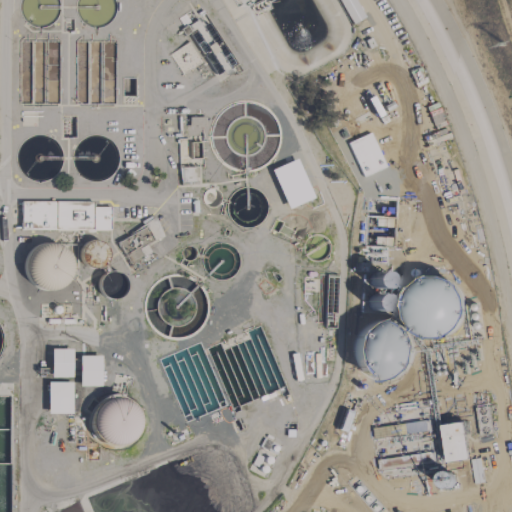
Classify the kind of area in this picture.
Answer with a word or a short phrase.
industrial area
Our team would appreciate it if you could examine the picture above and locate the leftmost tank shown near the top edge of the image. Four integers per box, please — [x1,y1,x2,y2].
[20,0,70,32]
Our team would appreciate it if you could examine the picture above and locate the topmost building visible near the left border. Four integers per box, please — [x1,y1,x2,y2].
[22,200,112,230]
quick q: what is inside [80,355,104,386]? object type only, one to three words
shed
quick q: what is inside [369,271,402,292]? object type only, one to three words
silo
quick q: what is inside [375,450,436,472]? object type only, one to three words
building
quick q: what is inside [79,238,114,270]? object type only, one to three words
storage tank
